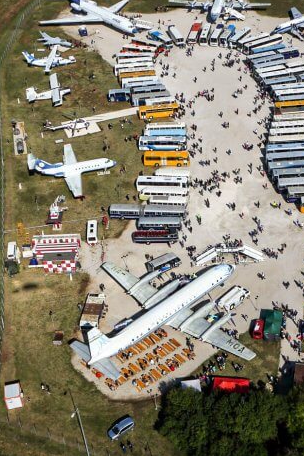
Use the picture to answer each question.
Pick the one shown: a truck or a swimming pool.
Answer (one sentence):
It is a truck that can be seen here.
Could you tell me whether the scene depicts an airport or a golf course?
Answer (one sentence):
The picture captures an airport.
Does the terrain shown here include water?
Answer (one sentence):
No, the scene doesn't show any water.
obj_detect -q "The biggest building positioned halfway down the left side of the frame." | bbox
[36,237,83,268]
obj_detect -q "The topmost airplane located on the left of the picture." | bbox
[38,0,134,35]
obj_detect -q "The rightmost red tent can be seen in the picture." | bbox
[213,378,248,400]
